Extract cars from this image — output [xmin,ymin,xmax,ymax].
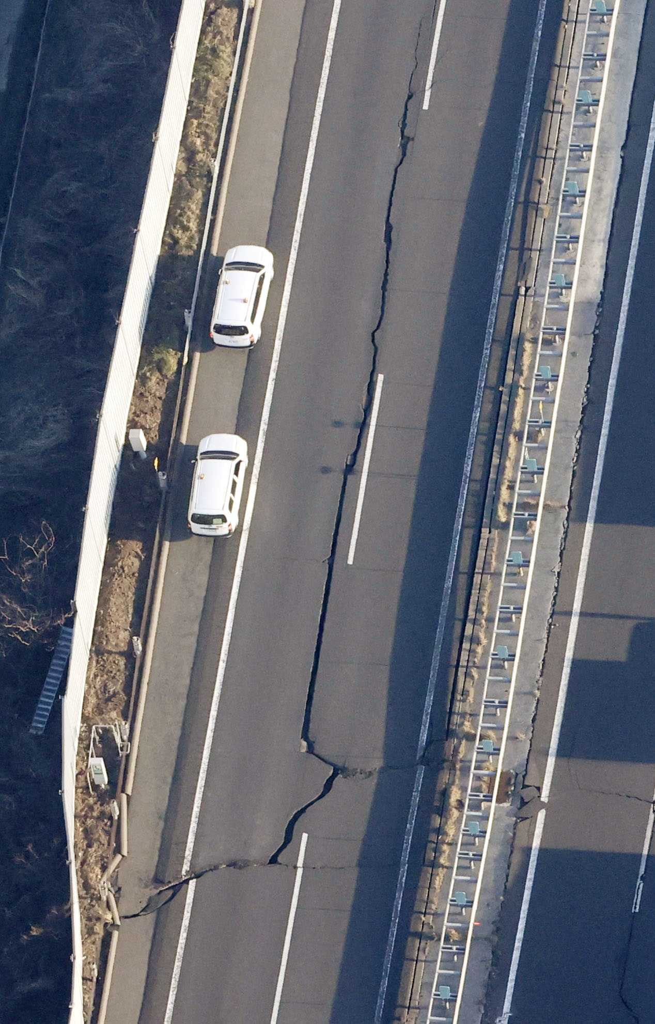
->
[188,431,246,536]
[211,244,271,347]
